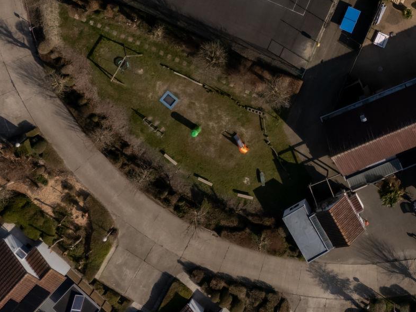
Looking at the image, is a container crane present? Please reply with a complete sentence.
No, the scene contains no container crane.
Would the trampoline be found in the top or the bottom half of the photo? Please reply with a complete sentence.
Seen from above, the trampoline lies in the top half of the view.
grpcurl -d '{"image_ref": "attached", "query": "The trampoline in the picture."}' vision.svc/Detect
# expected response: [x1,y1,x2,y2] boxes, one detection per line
[159,90,179,110]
